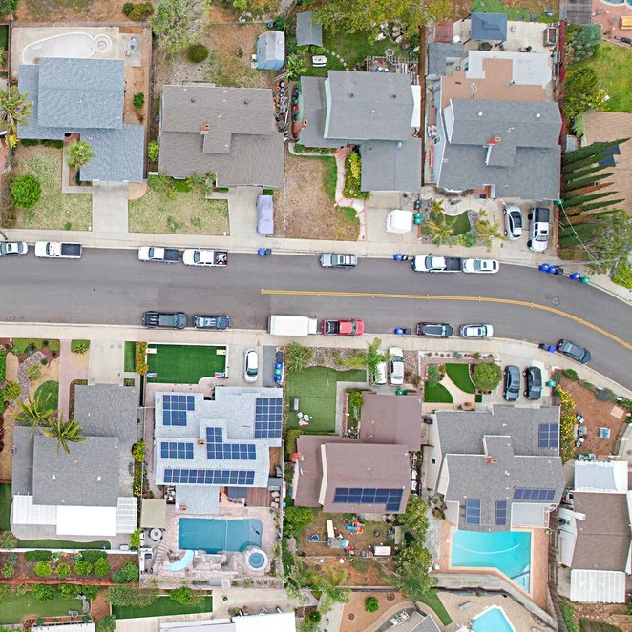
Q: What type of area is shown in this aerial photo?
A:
residential area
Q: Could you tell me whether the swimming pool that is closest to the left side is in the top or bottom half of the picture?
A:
top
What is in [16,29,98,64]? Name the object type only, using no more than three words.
swimming pool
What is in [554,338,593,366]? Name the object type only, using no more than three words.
car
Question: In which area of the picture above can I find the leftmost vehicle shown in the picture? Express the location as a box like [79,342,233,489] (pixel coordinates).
[0,240,28,257]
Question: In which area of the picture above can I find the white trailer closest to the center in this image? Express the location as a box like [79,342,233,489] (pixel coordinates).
[270,315,328,336]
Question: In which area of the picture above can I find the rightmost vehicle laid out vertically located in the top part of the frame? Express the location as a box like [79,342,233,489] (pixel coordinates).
[528,205,550,253]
